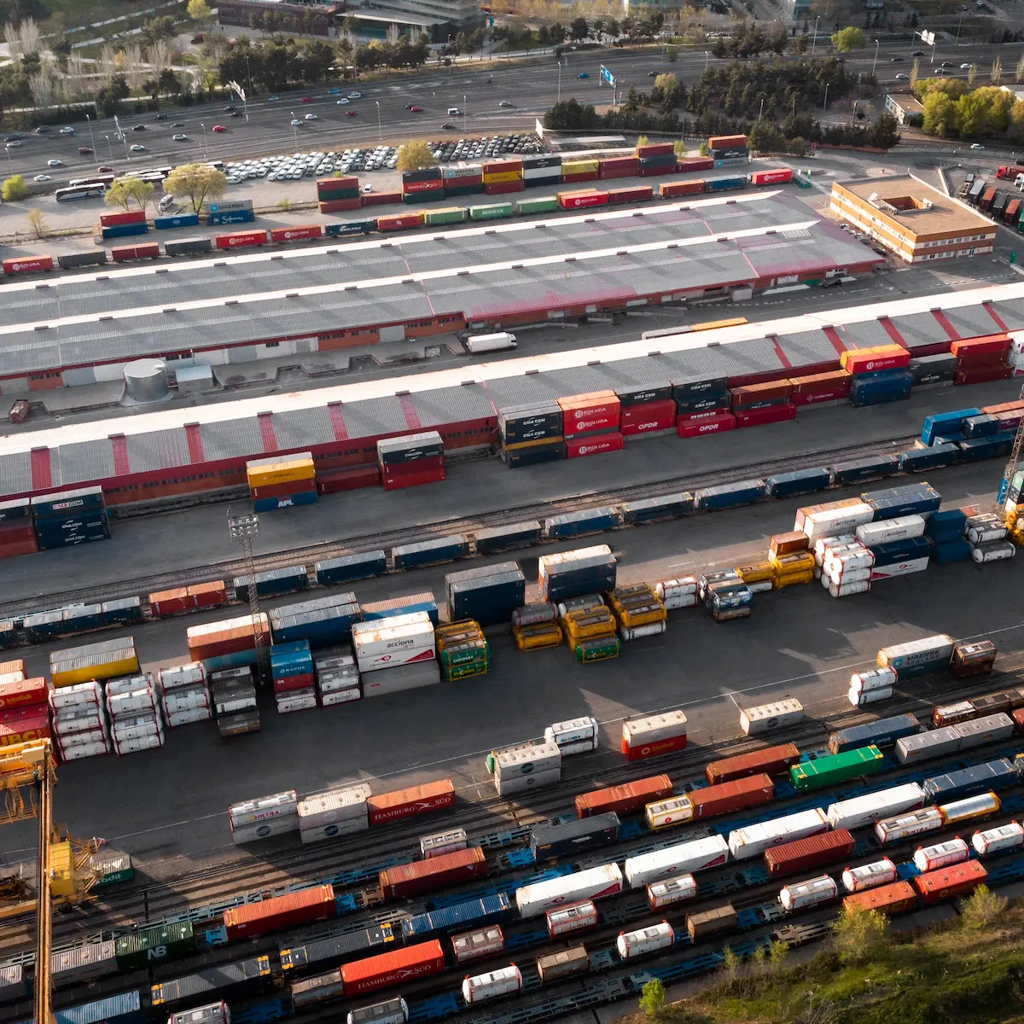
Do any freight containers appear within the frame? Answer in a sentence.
Yes, a freight container is visible in the scene.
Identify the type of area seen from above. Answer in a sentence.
This image shows an industrial area.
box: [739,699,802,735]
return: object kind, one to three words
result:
shipping container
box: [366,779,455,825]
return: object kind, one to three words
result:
shipping container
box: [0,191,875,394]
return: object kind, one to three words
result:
warehouse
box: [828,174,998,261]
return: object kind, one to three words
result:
building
